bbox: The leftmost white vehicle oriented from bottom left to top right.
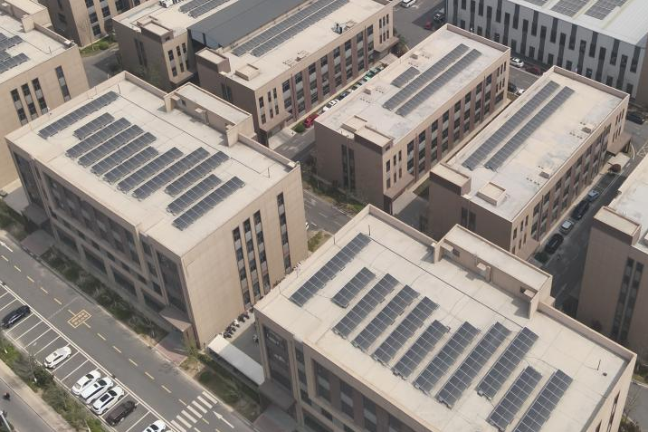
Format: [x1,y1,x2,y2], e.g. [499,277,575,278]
[42,345,73,370]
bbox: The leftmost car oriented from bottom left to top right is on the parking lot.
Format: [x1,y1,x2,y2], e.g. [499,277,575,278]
[0,305,31,328]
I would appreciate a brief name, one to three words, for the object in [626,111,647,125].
vehicle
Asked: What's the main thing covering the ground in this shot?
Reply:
buildings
